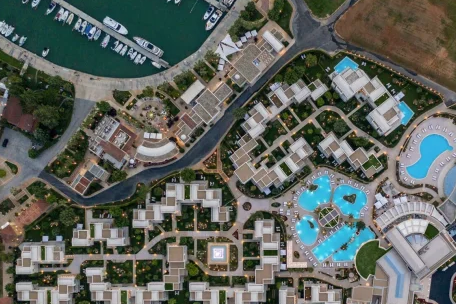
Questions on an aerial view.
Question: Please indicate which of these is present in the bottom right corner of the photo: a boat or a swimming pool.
swimming pool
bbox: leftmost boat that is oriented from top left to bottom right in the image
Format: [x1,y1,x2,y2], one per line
[102,14,127,32]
